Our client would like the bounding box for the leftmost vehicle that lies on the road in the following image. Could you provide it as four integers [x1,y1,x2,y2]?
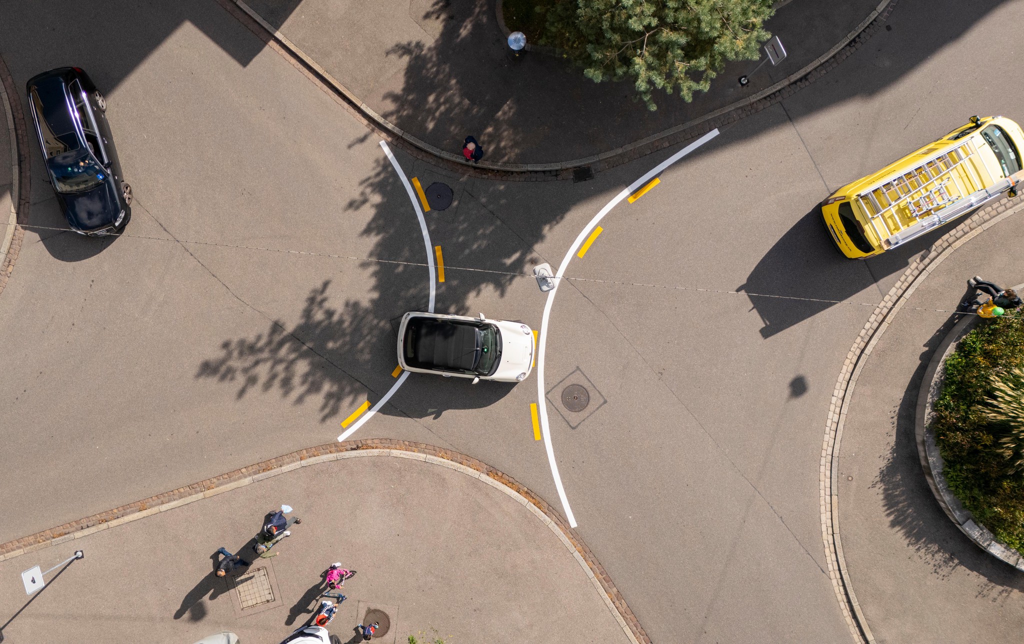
[24,65,134,237]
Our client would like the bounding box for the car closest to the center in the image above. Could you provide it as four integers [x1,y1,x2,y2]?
[398,312,533,383]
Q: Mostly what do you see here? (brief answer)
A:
paved ground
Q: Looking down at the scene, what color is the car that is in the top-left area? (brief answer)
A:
black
